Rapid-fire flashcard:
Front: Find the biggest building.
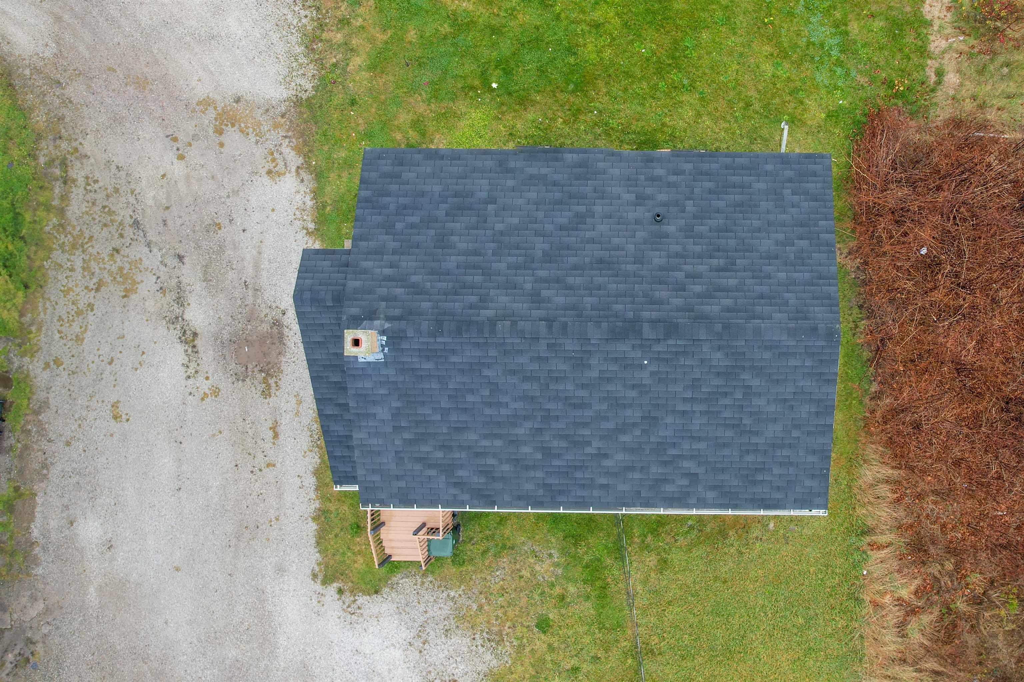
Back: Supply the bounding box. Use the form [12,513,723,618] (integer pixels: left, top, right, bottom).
[293,144,842,516]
